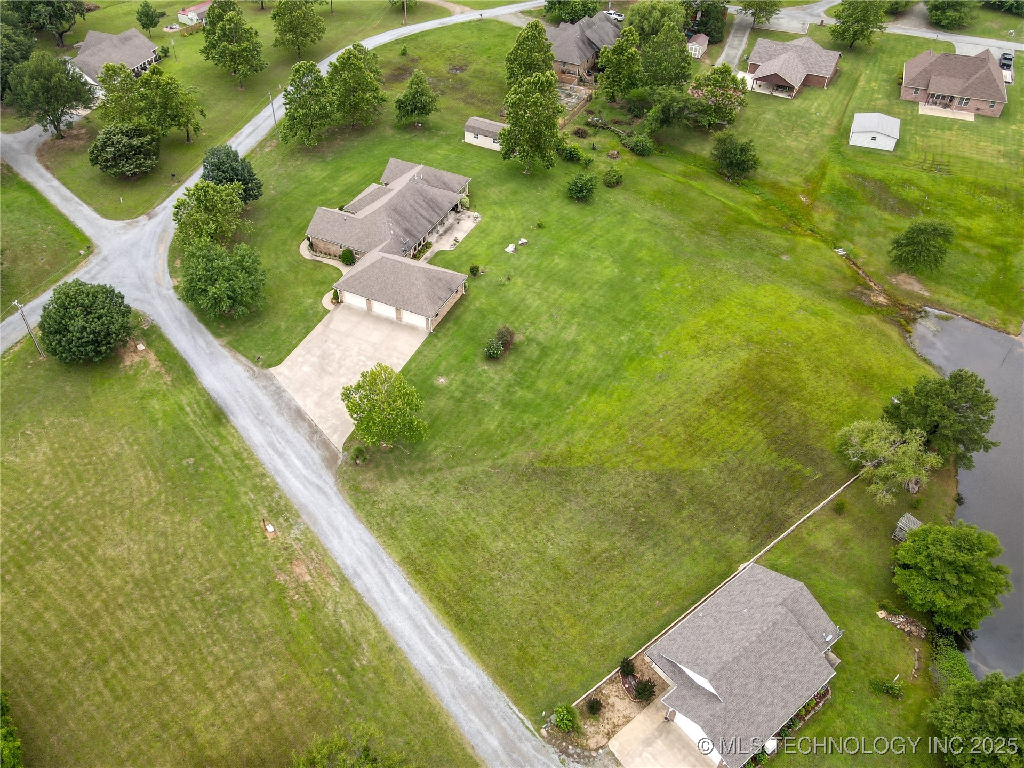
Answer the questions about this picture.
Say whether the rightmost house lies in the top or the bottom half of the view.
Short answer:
top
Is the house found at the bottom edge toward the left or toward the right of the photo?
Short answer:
right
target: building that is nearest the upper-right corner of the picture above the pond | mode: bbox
[900,49,1008,118]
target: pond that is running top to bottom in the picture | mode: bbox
[907,308,1024,685]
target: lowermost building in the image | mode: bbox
[644,563,841,768]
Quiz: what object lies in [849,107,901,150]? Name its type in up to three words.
shed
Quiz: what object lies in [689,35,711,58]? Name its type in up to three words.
shed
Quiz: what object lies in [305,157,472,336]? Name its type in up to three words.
house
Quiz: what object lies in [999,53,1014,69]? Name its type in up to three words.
vehicle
